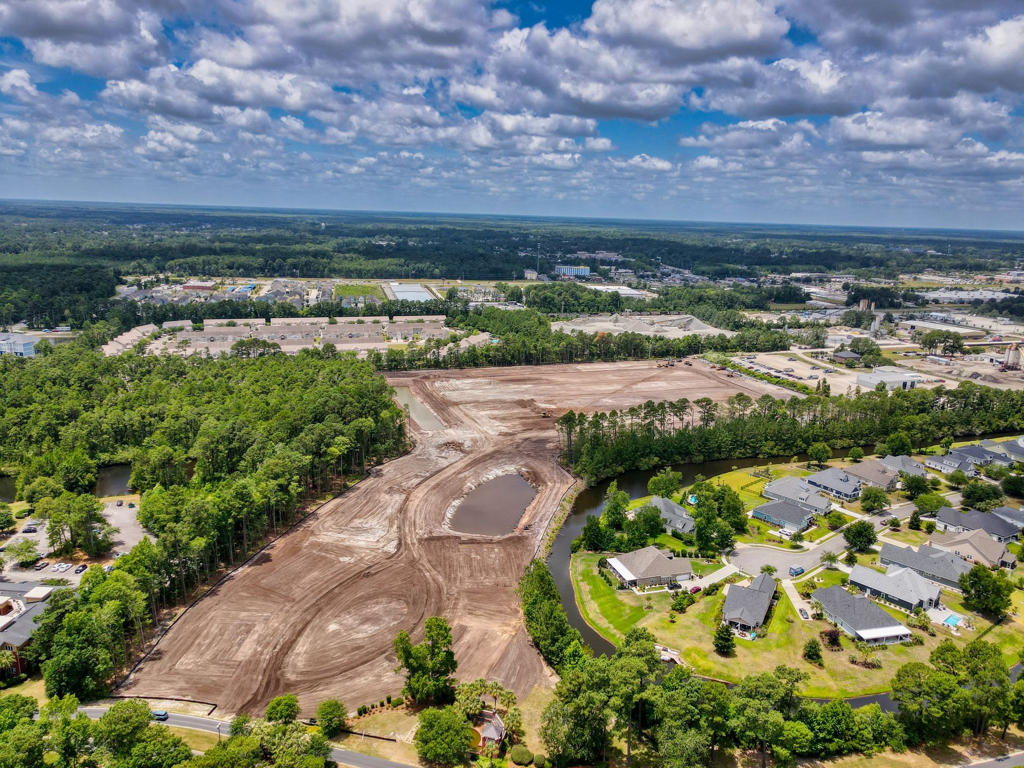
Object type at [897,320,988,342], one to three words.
building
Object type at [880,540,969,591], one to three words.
house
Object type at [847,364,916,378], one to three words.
shed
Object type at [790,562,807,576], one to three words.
vehicle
